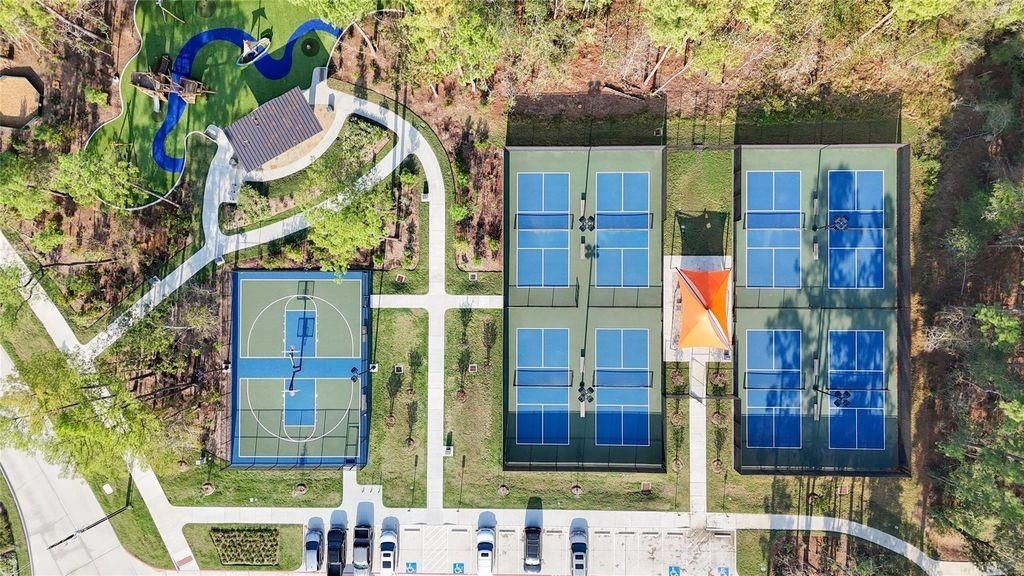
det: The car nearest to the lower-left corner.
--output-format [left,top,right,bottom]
[302,531,322,573]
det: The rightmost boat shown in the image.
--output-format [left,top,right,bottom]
[238,35,268,61]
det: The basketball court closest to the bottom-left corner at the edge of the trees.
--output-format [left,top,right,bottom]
[232,271,370,467]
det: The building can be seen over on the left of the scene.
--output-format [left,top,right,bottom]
[224,87,335,173]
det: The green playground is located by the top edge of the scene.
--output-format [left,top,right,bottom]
[83,0,412,211]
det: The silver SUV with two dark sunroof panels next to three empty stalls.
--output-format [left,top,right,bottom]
[569,533,589,576]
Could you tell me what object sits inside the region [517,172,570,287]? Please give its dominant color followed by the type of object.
blue sports court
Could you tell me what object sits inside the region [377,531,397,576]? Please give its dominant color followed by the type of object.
white car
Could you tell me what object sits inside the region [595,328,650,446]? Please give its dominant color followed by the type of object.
blue sports court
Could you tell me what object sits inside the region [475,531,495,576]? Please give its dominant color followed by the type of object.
white car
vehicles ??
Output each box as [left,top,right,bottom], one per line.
[349,530,371,576]
[325,530,346,576]
[302,531,322,573]
[475,531,495,576]
[377,531,397,576]
[569,533,589,576]
[522,529,542,574]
